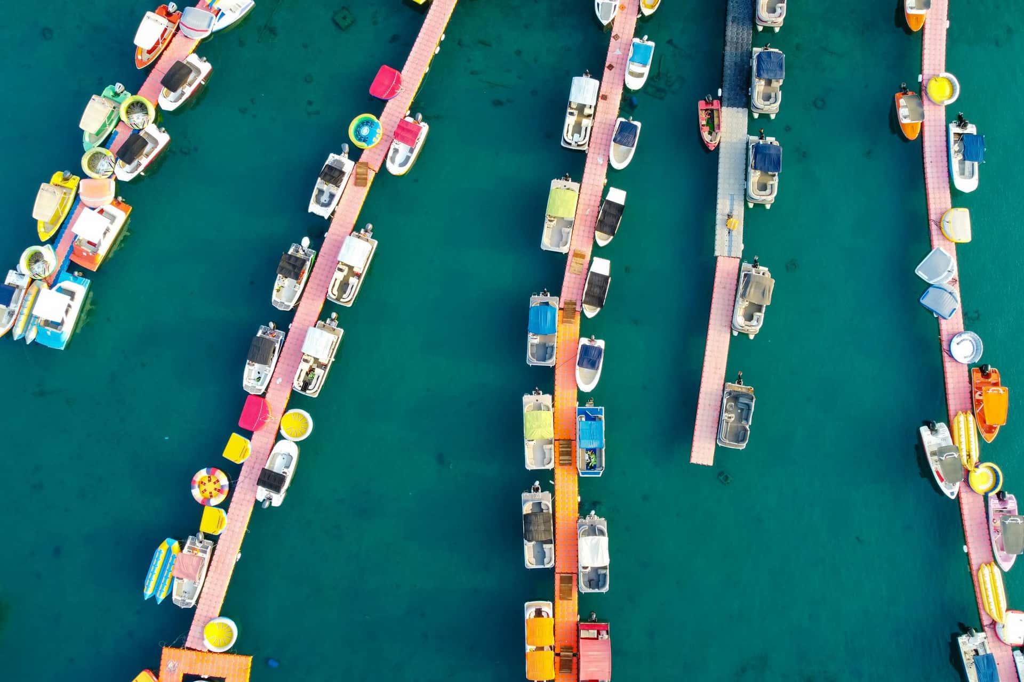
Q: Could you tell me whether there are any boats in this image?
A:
Yes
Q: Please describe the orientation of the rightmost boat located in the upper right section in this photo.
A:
up and down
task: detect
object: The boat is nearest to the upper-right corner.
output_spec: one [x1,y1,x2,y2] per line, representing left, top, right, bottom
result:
[897,0,929,36]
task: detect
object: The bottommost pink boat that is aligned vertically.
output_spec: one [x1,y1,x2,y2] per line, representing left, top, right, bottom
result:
[579,610,611,682]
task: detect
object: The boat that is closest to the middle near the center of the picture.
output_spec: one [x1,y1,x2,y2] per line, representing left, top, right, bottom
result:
[527,286,559,368]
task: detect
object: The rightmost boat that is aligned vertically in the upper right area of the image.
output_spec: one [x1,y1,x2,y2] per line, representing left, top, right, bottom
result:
[947,119,984,195]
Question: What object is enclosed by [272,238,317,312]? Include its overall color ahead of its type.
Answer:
white boat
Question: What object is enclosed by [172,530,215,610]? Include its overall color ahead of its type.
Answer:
white boat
